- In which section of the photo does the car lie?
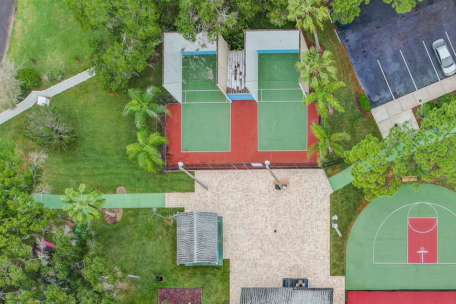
top right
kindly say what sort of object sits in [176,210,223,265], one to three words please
building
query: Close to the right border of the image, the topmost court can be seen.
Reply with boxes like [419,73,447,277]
[345,183,456,289]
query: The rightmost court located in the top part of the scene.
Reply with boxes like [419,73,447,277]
[244,28,324,167]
